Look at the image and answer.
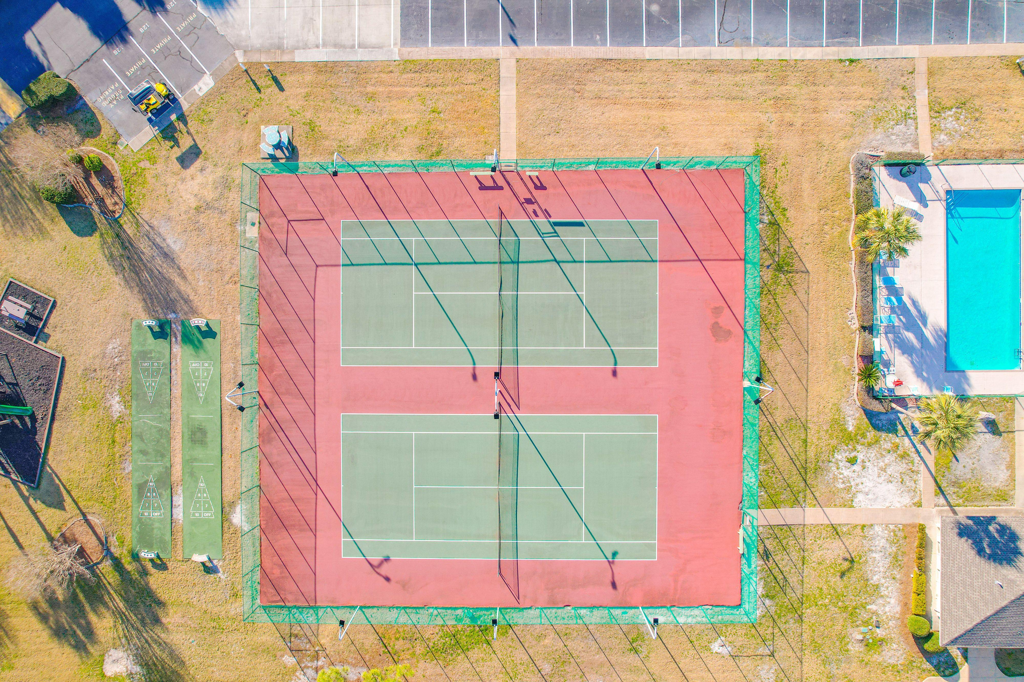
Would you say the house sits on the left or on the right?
right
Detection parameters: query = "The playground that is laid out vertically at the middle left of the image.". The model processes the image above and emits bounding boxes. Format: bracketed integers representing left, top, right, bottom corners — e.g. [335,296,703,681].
[0,278,63,487]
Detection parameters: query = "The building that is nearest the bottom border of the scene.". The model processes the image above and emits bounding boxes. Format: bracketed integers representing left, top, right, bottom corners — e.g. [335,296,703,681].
[938,515,1024,647]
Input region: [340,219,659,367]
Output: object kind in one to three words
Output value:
tennis court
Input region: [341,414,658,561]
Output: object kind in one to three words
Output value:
tennis court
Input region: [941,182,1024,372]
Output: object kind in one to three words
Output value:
swimming pool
